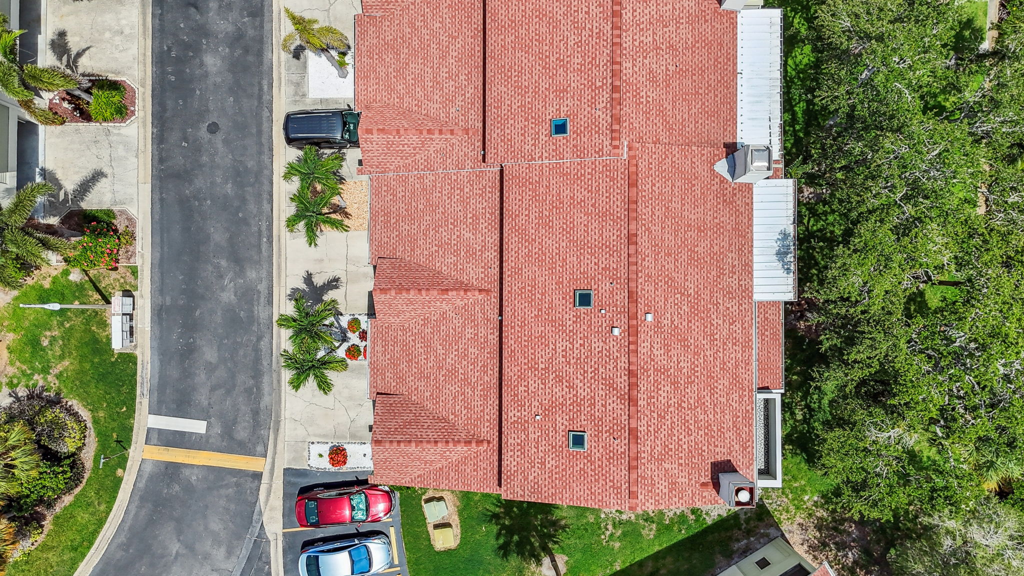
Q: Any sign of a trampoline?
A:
No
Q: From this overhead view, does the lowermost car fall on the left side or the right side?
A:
left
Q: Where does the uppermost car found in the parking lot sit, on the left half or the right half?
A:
left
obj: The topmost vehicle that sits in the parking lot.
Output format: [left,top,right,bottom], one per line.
[295,483,395,533]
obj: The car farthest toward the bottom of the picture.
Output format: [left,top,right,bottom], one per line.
[296,534,394,576]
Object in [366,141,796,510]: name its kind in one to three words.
house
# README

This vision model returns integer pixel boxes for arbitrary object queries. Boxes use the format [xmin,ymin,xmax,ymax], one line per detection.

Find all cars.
[295,483,395,533]
[296,534,394,576]
[282,108,361,151]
